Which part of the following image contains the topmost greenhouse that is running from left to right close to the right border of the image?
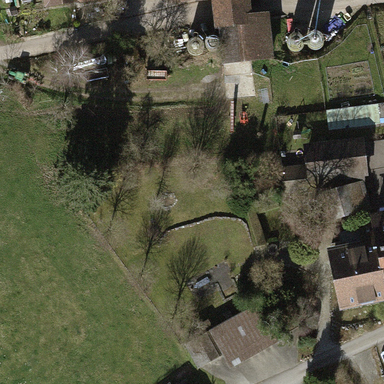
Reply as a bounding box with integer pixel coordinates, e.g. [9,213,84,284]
[326,104,380,129]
